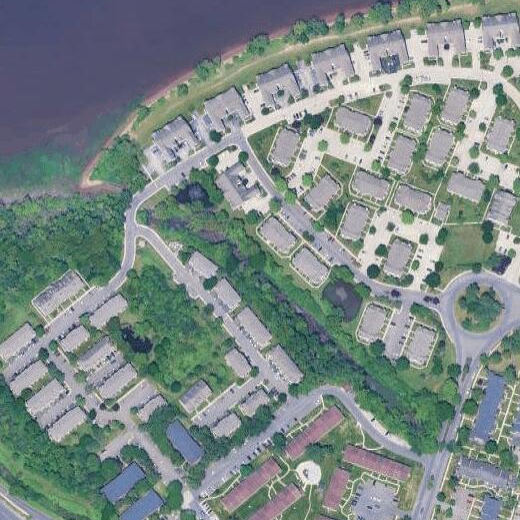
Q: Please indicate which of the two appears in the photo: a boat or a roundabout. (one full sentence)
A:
The image shows a roundabout.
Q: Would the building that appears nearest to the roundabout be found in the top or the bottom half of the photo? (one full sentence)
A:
It is in the bottom half that the building that appears nearest to the roundabout appears.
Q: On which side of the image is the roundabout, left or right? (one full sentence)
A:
It is on the right.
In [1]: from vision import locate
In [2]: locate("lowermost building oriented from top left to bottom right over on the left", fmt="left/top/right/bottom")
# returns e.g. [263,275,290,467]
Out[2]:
[167,419,202,465]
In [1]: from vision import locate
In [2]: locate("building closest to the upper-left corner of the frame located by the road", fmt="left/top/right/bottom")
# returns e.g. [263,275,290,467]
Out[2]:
[152,116,198,161]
